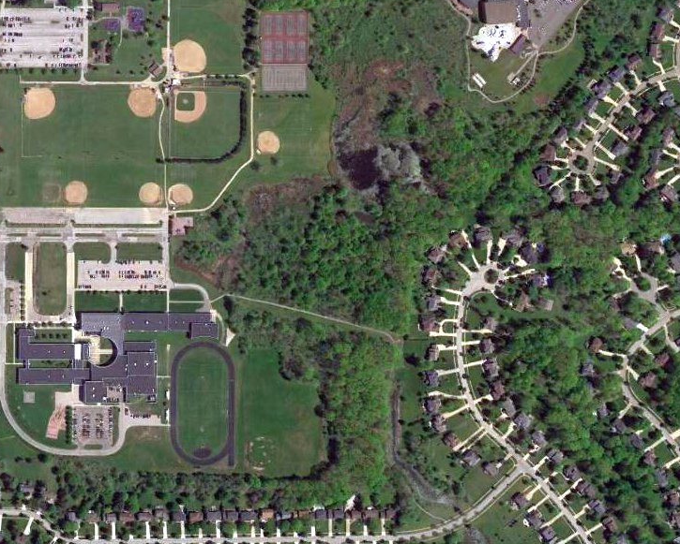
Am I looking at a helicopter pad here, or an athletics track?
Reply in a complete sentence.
This aerial view contains an athletics track.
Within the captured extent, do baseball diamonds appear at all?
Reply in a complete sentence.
Yes, there's a baseball diamond here.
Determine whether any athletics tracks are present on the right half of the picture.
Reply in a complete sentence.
No, I see no athletics track on the right half of the picture.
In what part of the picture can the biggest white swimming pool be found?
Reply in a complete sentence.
The biggest white swimming pool appears toward the top right of the photo.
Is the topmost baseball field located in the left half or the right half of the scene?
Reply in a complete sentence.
You can find the topmost baseball field on the left side of the picture.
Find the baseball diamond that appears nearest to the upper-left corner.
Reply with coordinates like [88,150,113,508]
[22,86,55,119]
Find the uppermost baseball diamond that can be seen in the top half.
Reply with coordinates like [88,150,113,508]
[171,39,206,73]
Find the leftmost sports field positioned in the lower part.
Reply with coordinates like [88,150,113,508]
[178,349,227,459]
